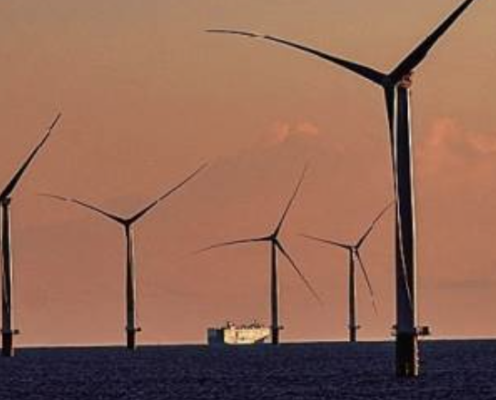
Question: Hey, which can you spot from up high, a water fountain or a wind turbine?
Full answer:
It is a wind turbine that can be seen here.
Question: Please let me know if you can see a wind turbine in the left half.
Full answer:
Yes, a wind turbine is visible in the left half.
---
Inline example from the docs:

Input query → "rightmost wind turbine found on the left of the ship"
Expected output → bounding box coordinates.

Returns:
[39,164,206,349]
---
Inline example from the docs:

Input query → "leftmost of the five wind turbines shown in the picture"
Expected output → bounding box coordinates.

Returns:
[0,116,59,355]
